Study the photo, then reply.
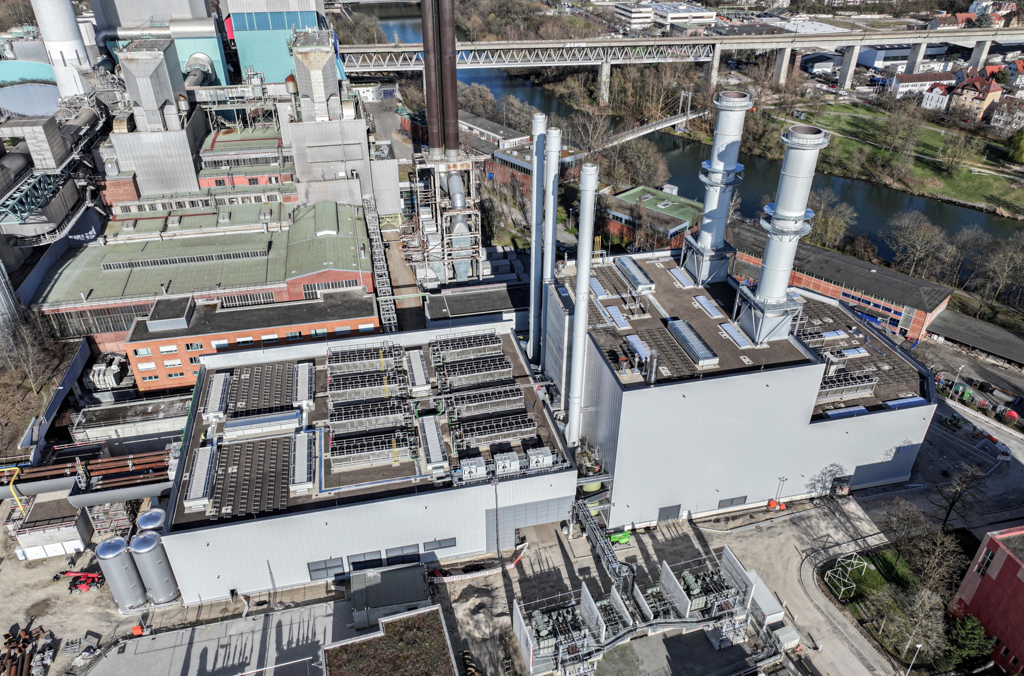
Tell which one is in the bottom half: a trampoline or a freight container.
freight container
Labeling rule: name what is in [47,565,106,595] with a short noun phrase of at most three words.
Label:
work vehicle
